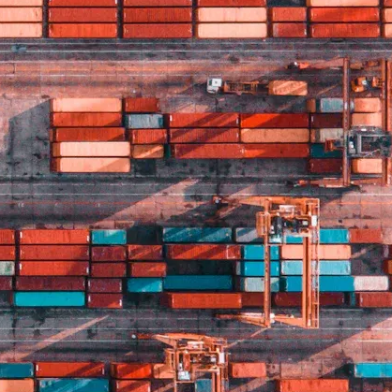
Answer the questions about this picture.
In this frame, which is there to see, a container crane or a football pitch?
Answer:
container crane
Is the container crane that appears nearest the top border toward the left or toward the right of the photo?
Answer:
right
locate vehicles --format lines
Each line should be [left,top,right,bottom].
[206,77,267,96]
[349,76,379,93]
